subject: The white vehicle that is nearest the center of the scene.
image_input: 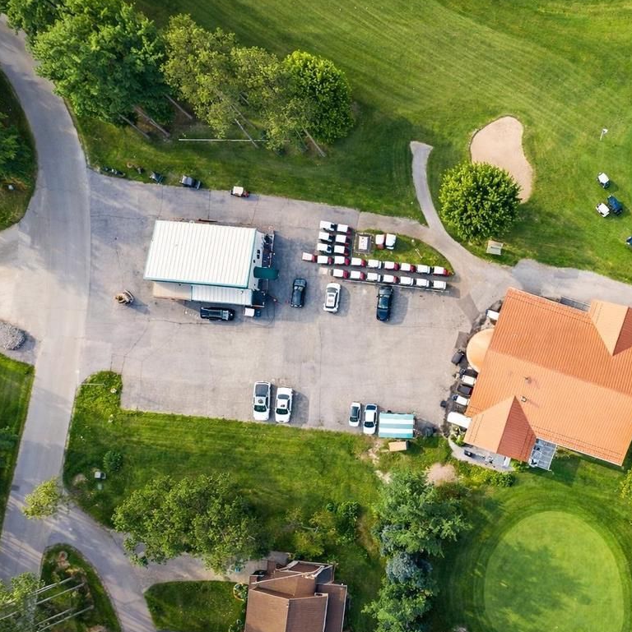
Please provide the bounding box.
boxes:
[324,283,342,315]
